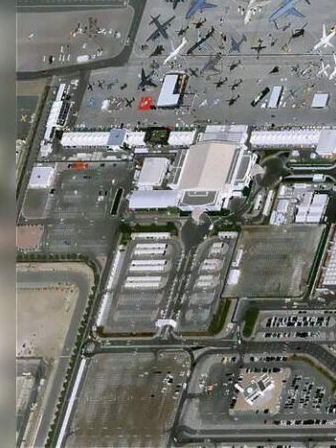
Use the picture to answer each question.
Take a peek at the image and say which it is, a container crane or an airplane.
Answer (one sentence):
The image shows an airplane.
